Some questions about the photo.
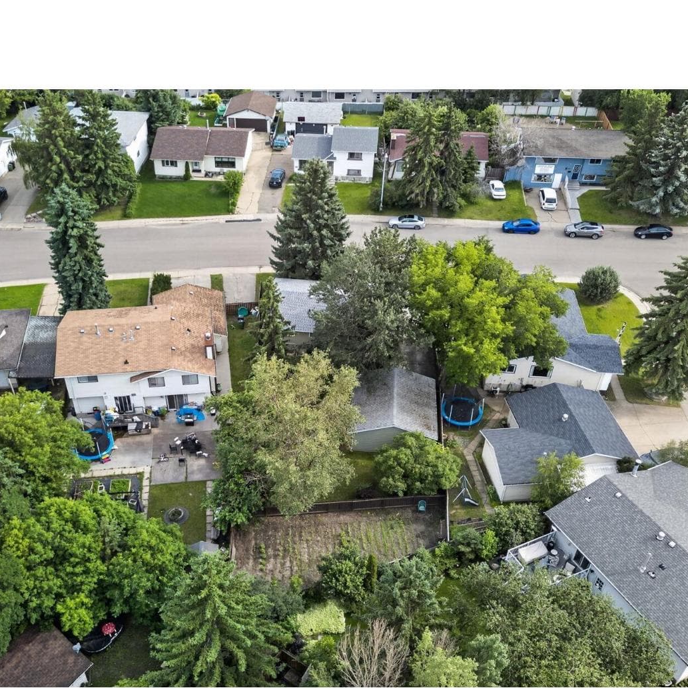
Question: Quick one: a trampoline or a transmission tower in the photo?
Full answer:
Visible in the photo is a trampoline.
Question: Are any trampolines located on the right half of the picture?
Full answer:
Yes, on the right half of the picture there is a trampoline.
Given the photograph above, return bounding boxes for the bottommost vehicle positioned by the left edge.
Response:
[33,376,54,388]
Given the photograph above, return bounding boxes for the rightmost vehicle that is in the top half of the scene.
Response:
[634,224,677,240]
